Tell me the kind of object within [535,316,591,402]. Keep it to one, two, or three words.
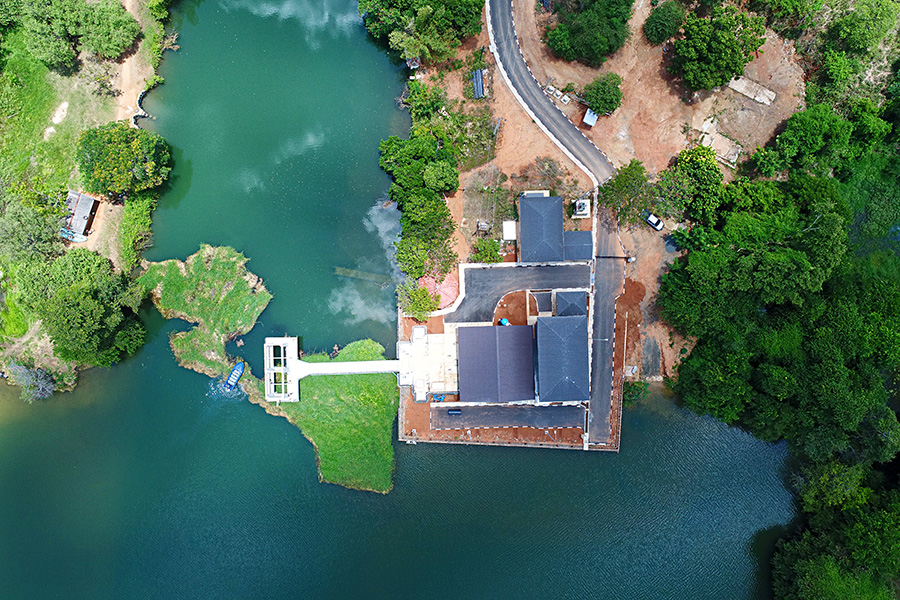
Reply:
house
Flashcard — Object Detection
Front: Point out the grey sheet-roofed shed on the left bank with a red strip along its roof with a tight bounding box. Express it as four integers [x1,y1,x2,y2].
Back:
[61,192,102,236]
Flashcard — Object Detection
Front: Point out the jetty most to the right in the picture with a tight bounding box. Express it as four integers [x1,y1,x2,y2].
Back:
[263,337,299,407]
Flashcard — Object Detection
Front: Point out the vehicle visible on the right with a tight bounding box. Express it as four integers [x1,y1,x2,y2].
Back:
[641,211,664,230]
